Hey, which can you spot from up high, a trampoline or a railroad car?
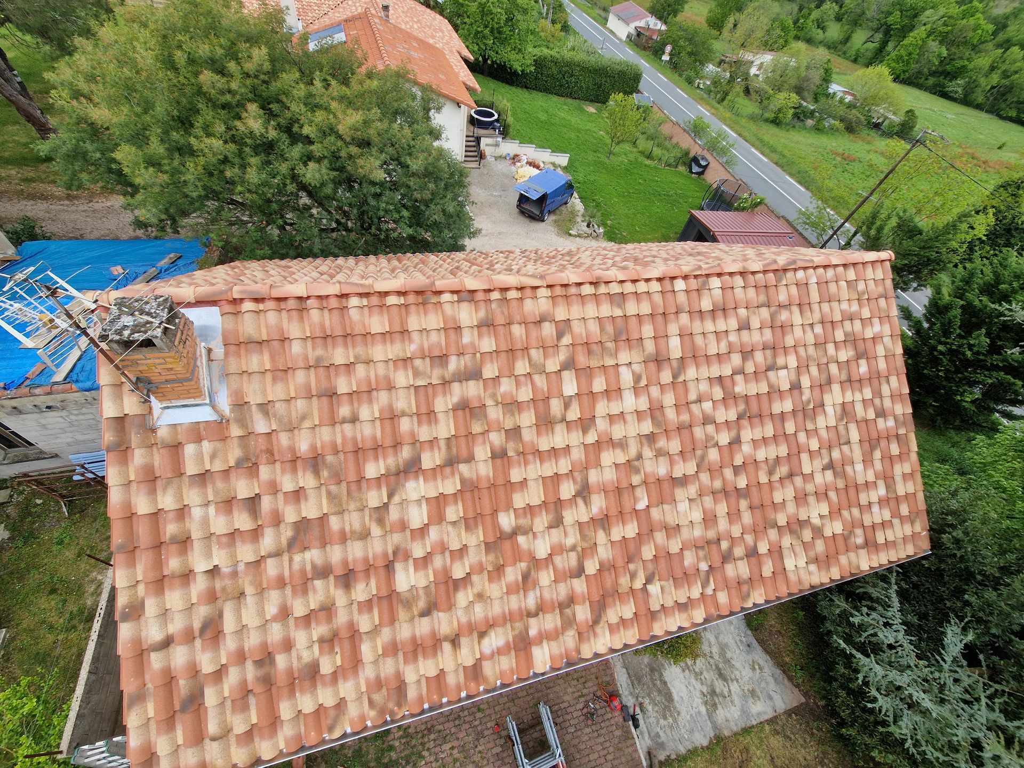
trampoline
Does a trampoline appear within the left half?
No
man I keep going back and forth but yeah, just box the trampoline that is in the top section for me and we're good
[704,169,758,212]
